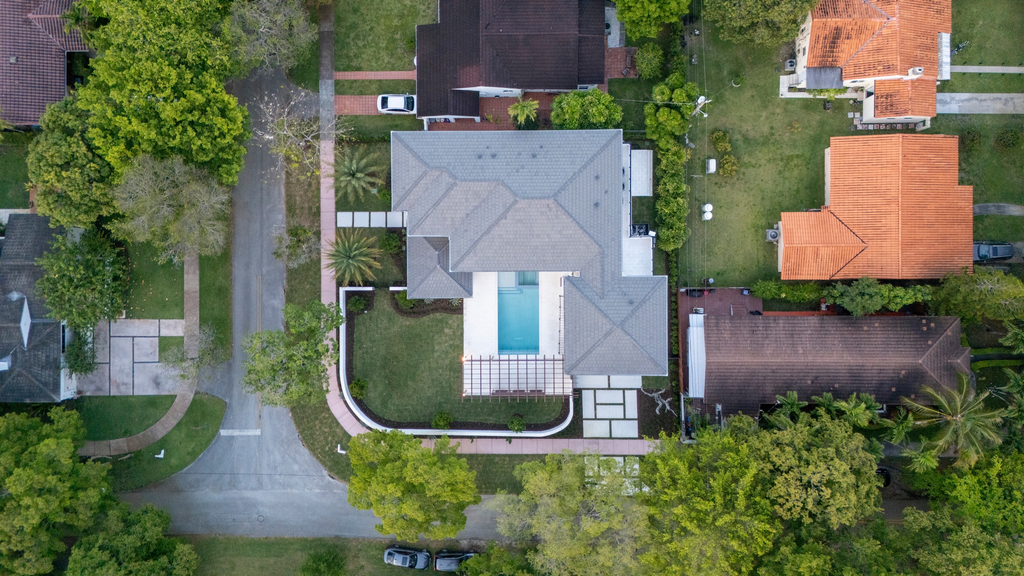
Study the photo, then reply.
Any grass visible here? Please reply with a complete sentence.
Yes, the picture does contain grass.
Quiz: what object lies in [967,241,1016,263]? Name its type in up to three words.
car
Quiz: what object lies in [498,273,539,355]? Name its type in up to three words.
swimming pool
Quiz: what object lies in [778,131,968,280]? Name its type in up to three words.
house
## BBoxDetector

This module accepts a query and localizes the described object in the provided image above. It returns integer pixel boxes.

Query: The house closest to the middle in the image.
[390,128,668,377]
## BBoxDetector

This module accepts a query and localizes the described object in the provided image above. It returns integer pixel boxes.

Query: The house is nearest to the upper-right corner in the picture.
[786,0,961,132]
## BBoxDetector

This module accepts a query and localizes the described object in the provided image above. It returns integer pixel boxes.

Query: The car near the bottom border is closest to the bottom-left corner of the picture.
[383,545,428,571]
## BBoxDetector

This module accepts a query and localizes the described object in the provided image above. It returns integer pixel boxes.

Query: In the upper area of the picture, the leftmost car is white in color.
[375,92,415,114]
